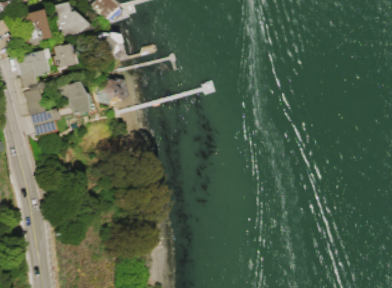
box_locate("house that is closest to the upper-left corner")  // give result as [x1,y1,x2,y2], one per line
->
[27,10,51,46]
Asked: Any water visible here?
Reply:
Yes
